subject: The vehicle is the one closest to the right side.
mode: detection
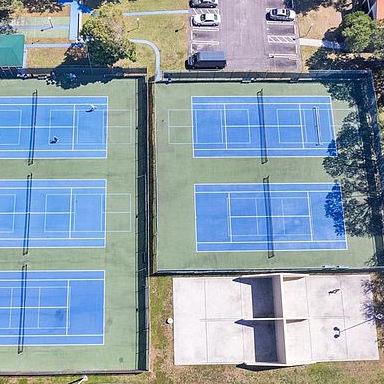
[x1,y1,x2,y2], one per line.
[268,7,295,20]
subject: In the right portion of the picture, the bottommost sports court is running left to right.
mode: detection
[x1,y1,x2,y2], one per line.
[173,273,378,365]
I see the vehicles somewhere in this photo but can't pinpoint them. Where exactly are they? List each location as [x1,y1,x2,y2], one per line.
[191,0,218,7]
[189,50,227,67]
[268,7,295,20]
[192,13,219,26]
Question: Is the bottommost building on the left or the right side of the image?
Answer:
left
